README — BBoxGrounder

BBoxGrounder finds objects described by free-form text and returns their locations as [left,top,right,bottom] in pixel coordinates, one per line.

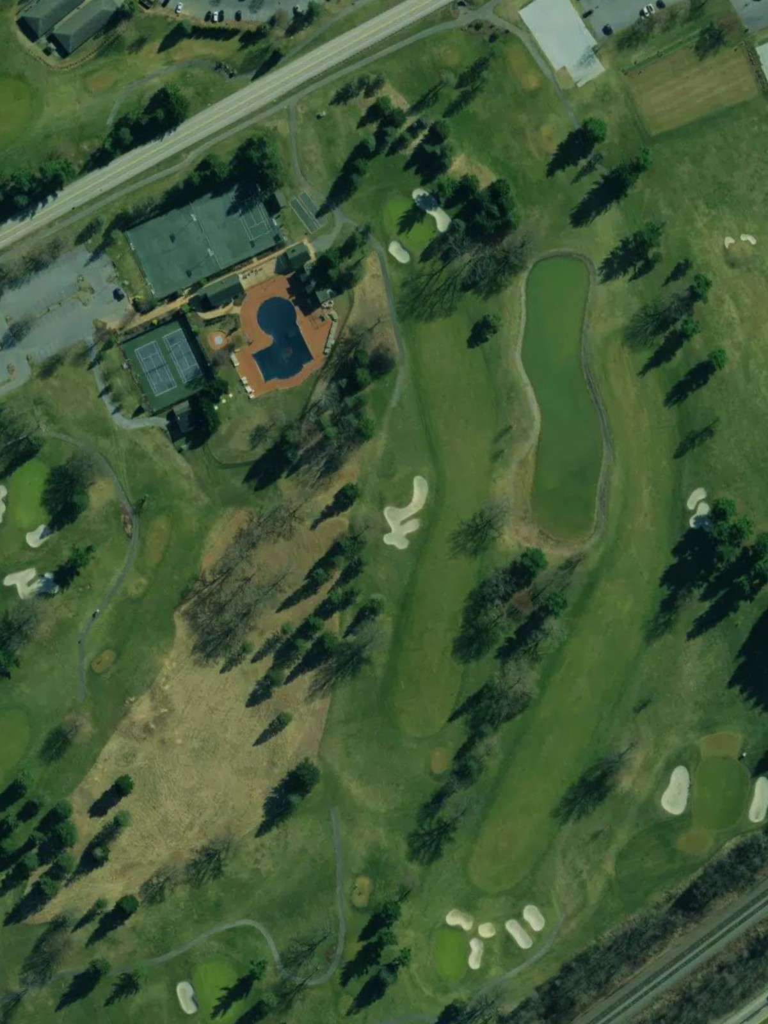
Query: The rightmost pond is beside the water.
[522,255,605,543]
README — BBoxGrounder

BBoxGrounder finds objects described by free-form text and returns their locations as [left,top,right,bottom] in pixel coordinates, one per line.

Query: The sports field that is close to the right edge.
[627,46,760,138]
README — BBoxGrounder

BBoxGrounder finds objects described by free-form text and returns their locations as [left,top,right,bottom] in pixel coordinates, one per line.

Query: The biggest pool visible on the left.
[235,272,337,398]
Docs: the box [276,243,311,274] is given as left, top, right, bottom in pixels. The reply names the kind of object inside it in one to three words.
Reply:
building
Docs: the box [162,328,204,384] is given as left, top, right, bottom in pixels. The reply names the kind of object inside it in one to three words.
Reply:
tennis court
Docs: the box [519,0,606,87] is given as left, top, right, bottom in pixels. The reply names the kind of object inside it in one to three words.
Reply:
building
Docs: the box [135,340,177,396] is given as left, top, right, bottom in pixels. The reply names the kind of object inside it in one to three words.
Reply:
tennis court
